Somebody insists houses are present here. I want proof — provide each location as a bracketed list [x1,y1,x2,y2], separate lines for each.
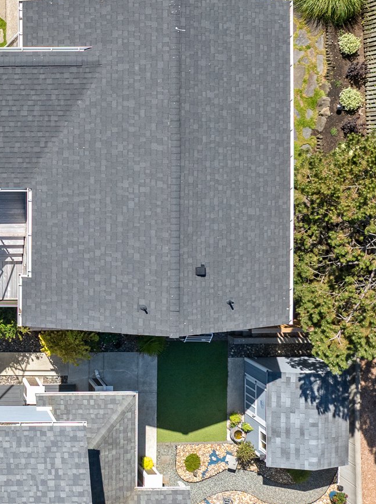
[0,368,192,504]
[0,0,297,338]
